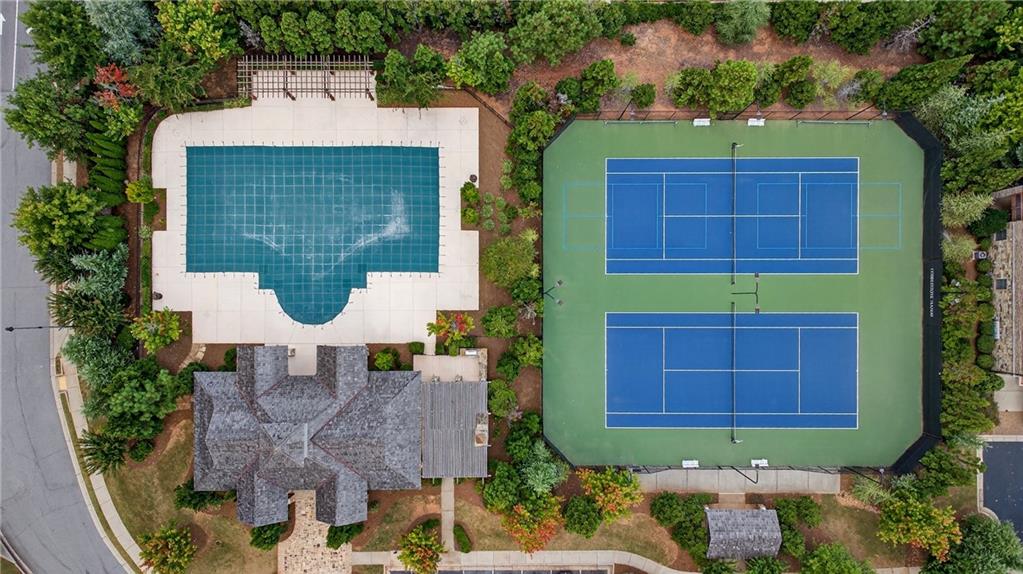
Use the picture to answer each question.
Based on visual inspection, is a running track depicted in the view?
No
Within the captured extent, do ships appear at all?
No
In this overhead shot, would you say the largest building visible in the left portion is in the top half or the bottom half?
bottom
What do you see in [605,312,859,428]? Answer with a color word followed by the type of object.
blue tennis court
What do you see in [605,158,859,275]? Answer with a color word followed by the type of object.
blue tennis court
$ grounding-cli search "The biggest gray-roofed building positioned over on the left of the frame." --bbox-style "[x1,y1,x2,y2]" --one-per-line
[193,345,422,527]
